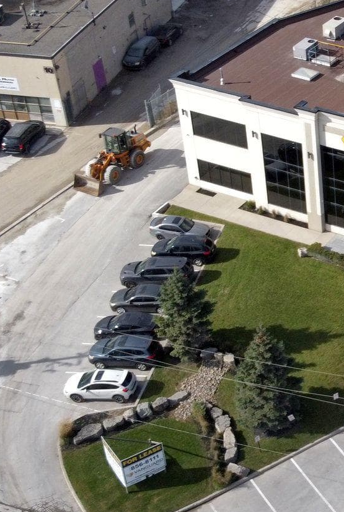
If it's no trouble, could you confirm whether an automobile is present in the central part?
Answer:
Yes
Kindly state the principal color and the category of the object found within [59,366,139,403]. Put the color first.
white car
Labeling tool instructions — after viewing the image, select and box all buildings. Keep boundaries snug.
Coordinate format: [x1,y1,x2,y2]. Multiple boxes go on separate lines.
[0,0,191,127]
[165,0,344,232]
